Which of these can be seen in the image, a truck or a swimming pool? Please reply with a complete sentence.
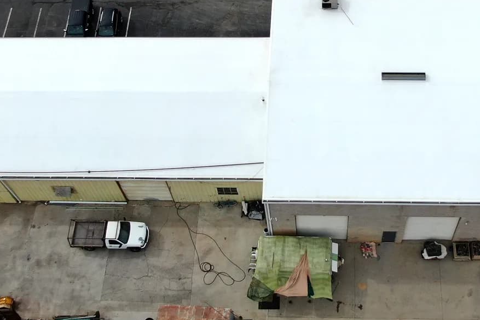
It is a truck that can be seen here.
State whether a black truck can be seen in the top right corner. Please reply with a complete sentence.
No, no black truck appears in the top right corner.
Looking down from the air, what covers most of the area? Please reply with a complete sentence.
The scene is dominated by buildings.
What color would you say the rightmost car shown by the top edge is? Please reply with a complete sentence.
The rightmost car shown by the top edge is black.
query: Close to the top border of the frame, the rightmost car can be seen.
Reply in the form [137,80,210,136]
[94,8,124,37]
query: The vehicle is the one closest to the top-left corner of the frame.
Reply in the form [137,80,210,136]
[61,0,94,37]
